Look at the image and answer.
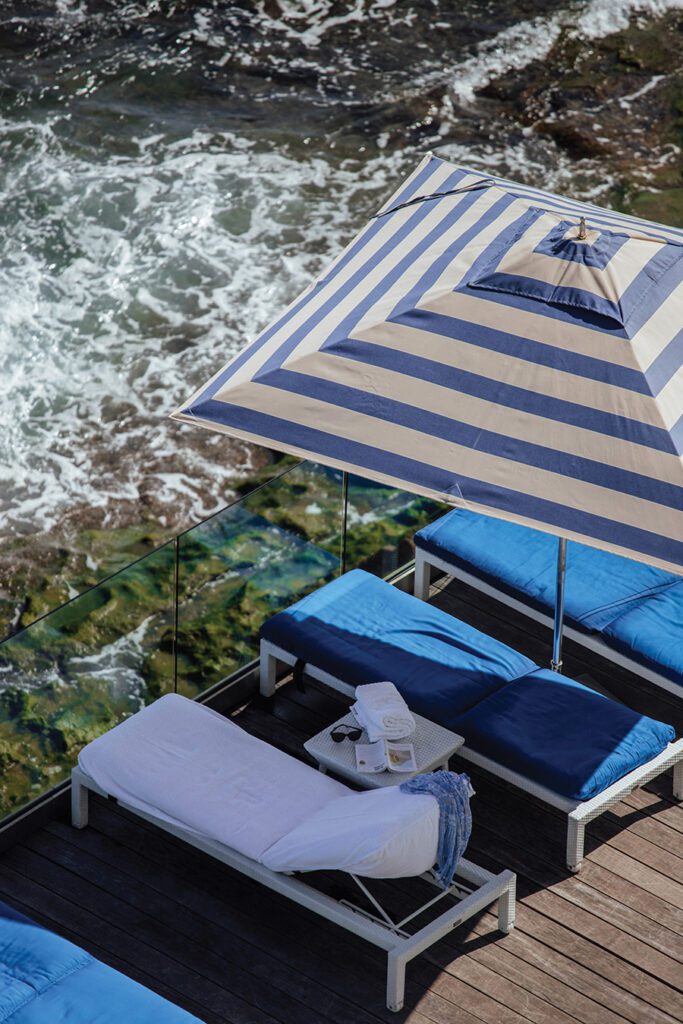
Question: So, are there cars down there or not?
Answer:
No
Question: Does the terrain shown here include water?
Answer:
Yes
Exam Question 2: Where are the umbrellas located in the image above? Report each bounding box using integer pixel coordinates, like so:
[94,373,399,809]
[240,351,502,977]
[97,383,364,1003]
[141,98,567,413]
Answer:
[168,153,683,696]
